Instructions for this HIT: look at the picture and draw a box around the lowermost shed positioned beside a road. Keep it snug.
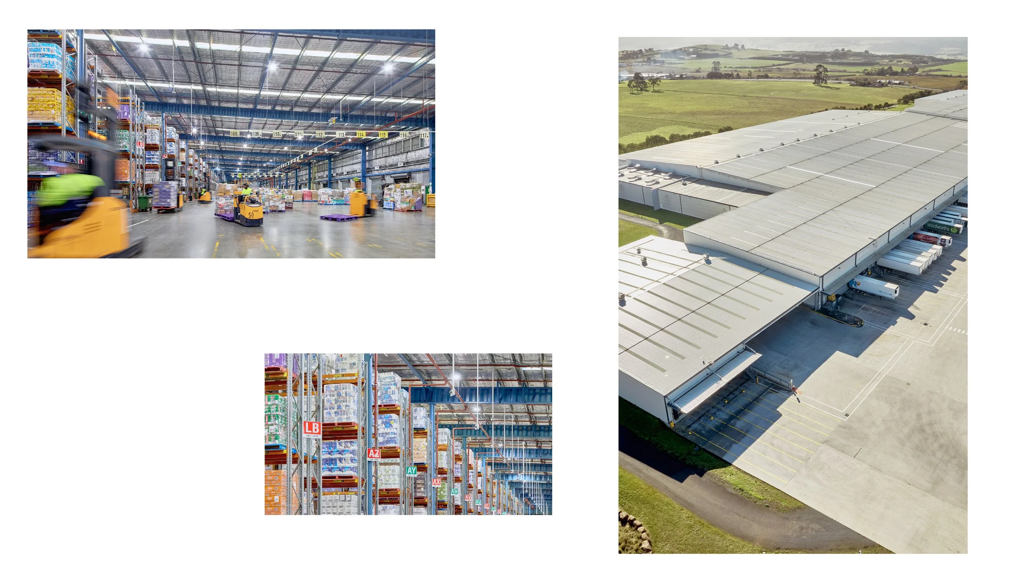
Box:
[618,235,826,429]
